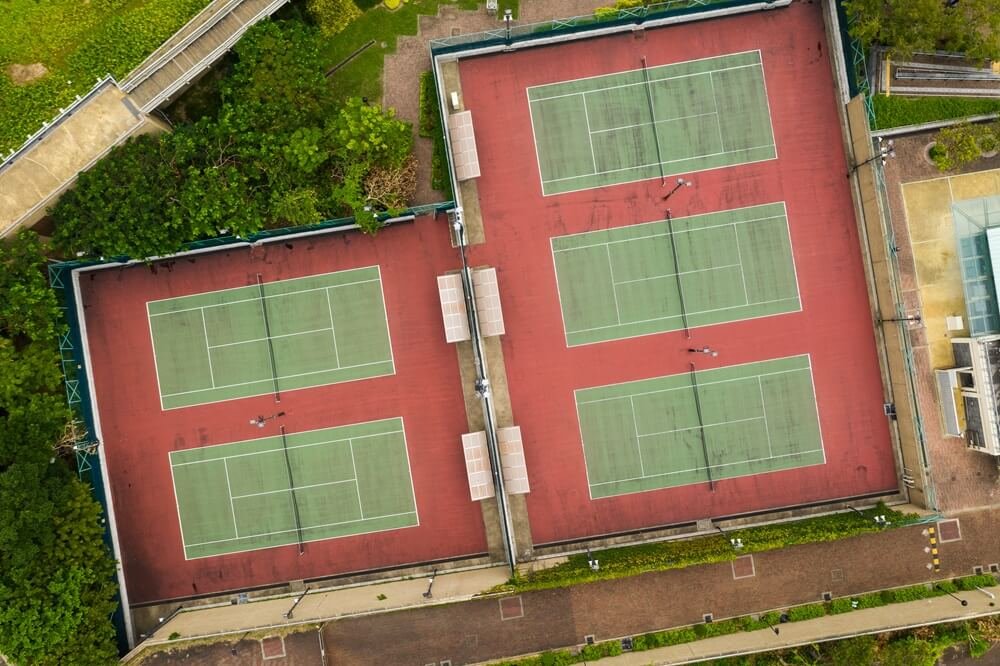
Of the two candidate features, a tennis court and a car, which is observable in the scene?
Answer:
tennis court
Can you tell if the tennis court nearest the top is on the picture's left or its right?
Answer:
right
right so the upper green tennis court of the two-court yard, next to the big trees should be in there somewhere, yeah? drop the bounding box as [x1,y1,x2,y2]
[146,266,397,411]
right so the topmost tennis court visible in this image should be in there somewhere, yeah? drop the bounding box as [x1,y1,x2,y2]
[527,52,776,194]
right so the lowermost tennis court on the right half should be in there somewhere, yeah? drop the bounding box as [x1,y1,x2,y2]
[575,354,825,500]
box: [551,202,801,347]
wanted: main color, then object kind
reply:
green tennis court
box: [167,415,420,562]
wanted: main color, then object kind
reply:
green tennis court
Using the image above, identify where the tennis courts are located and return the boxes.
[551,202,801,347]
[146,266,397,411]
[527,52,776,194]
[167,415,420,562]
[575,354,825,500]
